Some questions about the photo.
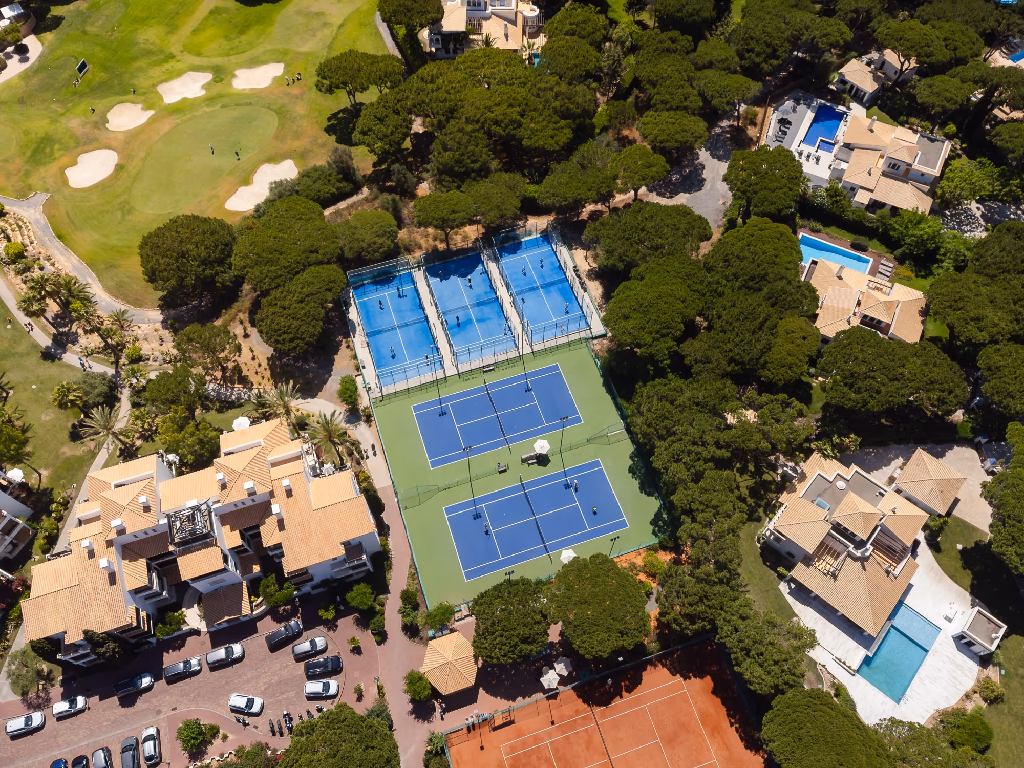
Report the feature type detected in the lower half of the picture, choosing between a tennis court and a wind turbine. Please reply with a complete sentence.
There is a tennis court in the lower half of the picture.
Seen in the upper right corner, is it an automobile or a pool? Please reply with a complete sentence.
There is a pool in the upper right corner.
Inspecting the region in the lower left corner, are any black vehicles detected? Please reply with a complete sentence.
Yes, a black vehicle is visible in the lower left corner.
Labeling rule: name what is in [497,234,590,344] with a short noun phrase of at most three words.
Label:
sports court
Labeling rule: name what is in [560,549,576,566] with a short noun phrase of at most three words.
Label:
umbrella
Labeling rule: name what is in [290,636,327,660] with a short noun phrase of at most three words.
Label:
car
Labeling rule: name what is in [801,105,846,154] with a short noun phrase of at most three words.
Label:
swimming pool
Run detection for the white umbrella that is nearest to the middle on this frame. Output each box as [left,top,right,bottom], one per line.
[533,440,550,456]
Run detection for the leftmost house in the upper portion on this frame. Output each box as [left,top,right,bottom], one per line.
[429,0,546,62]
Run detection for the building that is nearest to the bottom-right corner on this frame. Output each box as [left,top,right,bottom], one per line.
[949,606,1007,657]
